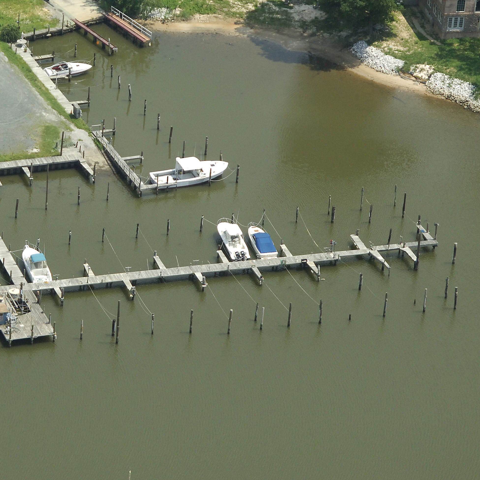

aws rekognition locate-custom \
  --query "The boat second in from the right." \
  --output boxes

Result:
[217,218,250,263]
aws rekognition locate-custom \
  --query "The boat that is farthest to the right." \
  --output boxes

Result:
[248,221,277,261]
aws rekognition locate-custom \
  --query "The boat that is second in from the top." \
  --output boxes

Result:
[147,149,228,185]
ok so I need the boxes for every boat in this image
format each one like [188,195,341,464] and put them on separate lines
[147,149,228,185]
[248,221,277,261]
[217,218,250,263]
[21,244,53,284]
[46,62,92,78]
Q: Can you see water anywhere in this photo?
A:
Yes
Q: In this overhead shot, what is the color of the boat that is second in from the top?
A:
white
